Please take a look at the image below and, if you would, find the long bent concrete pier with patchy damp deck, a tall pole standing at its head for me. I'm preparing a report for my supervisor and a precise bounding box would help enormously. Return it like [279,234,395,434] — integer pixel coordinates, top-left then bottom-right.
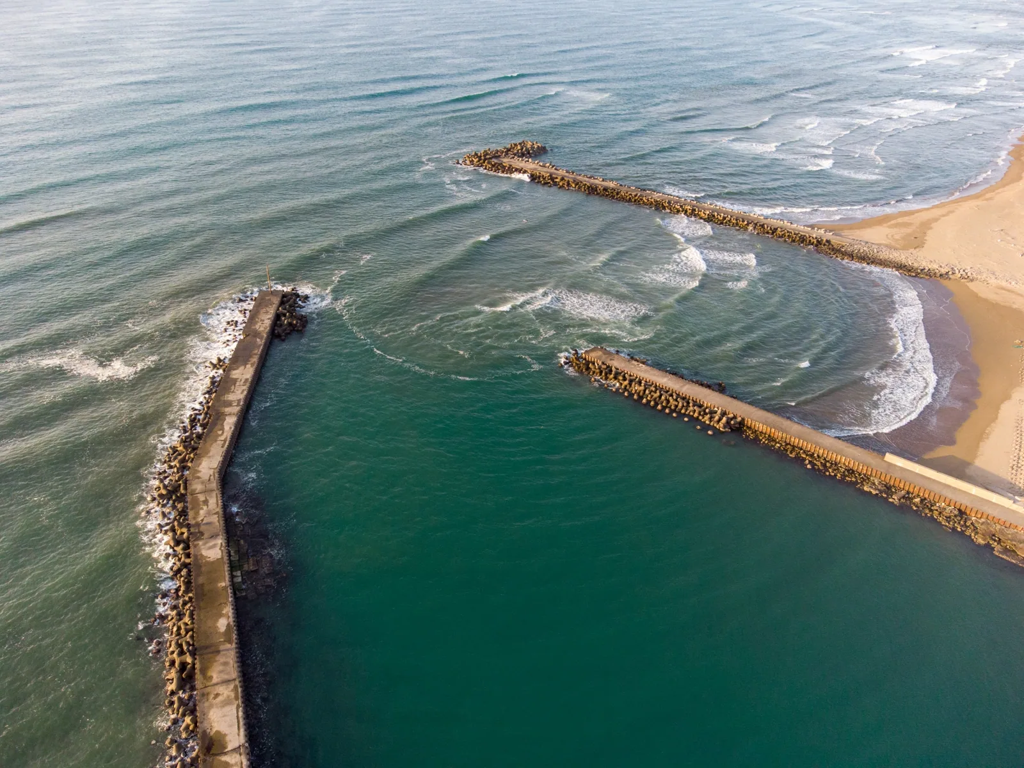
[187,290,283,768]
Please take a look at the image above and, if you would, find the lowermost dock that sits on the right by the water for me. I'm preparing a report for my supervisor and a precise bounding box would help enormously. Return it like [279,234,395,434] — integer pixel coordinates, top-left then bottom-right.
[582,348,1024,532]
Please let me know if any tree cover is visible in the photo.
No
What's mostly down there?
water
